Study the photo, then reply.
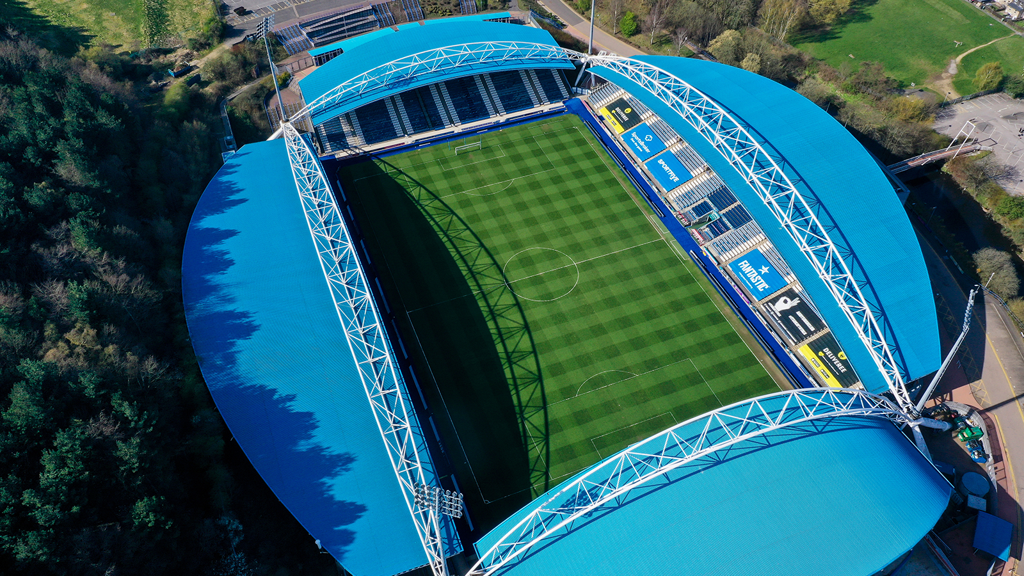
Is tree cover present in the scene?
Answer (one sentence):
Yes, tree cover shows up in the scene.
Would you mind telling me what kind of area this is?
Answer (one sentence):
The picture captures a sports ground.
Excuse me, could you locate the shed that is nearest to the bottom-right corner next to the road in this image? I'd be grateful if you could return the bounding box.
[968,512,1013,566]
